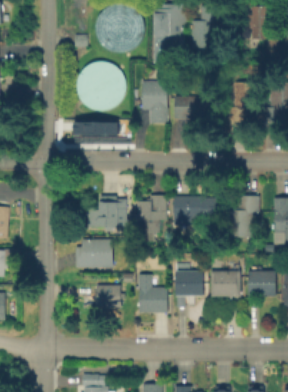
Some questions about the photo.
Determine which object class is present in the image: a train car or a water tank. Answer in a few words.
water tank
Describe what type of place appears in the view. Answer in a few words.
residential area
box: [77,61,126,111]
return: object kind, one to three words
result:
water tank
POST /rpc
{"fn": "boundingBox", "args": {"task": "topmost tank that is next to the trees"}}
[96,4,145,54]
